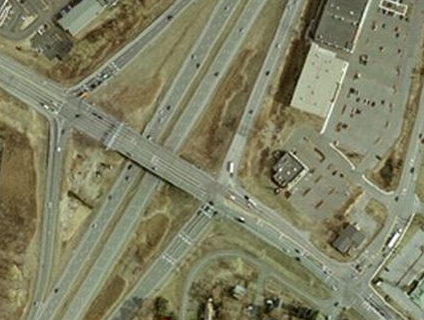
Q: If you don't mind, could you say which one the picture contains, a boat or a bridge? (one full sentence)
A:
This aerial view contains a bridge.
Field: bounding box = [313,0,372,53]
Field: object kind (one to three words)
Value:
building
